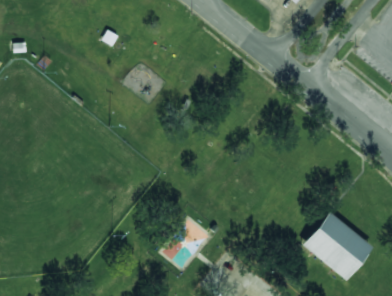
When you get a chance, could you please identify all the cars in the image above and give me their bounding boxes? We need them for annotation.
[284,0,291,8]
[224,262,233,270]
